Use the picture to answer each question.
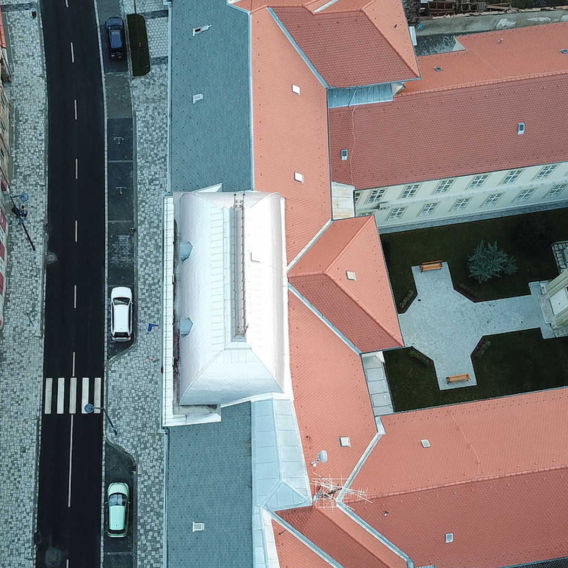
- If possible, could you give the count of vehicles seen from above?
3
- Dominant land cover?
buildings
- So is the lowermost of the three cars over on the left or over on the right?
left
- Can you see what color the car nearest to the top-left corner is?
blue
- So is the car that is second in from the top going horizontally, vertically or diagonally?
vertically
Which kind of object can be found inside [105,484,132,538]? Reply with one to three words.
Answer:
car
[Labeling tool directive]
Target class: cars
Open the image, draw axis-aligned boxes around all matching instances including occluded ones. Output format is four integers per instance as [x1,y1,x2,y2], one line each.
[103,18,127,60]
[108,291,134,343]
[105,484,132,538]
